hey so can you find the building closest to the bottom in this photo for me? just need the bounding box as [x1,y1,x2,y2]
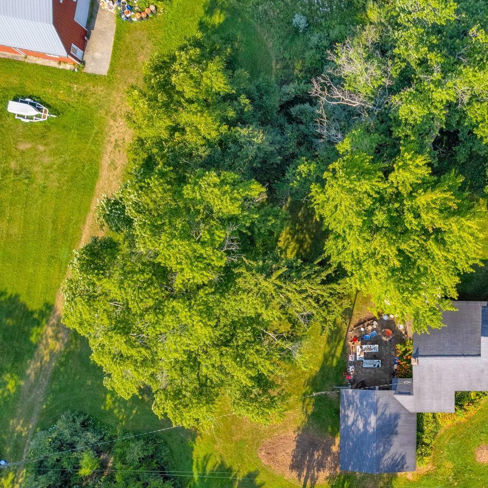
[327,385,417,473]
